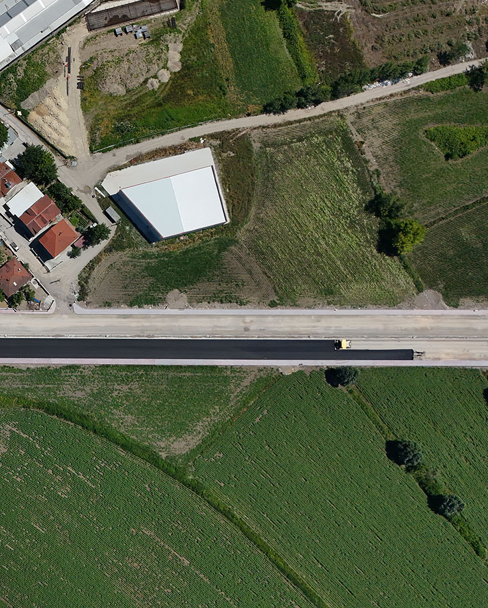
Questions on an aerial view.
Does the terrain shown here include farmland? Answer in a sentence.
Yes, farmland shows up in the scene.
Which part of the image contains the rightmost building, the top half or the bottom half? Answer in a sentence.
You can find the rightmost building in the top half.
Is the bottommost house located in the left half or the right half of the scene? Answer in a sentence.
The bottommost house is on the left side of the image.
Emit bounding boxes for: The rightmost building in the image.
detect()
[118,166,226,239]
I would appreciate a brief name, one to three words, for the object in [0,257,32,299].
house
